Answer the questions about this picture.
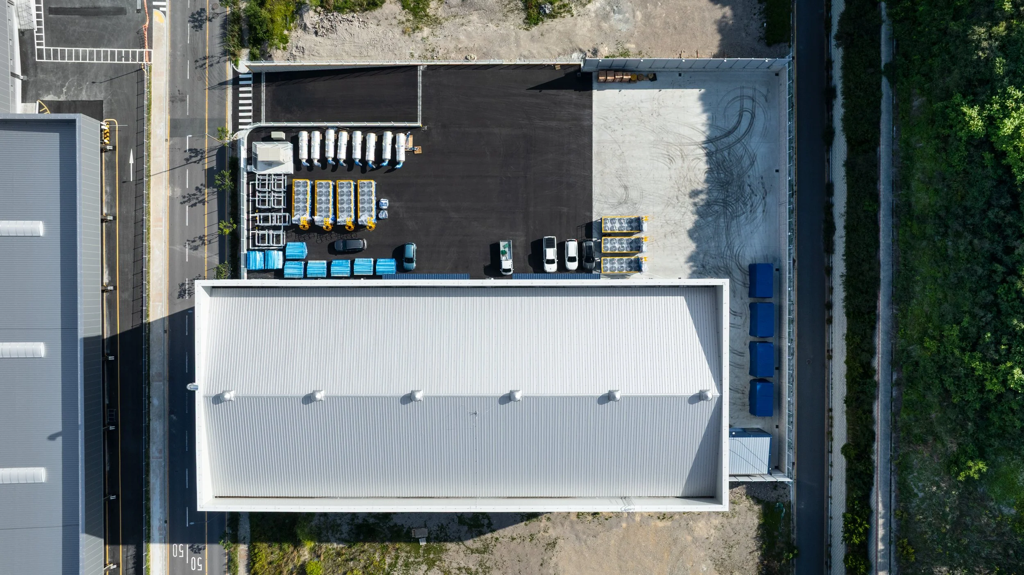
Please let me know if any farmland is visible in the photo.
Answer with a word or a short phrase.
No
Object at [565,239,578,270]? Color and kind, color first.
white vehicle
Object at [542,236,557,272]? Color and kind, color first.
white vehicle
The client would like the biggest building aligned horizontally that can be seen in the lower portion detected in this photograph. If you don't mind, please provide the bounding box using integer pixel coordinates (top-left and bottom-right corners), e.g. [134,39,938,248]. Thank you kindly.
[179,273,729,520]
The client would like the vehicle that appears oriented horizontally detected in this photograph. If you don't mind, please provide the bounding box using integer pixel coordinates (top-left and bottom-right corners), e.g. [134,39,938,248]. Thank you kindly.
[335,238,367,254]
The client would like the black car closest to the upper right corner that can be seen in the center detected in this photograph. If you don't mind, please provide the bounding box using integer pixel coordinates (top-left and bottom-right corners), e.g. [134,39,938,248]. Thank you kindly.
[582,239,595,270]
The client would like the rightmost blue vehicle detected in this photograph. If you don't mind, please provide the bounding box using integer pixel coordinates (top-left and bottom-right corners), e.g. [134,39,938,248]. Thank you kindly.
[402,242,417,271]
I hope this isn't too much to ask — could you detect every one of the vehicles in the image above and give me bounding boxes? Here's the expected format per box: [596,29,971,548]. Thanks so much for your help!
[542,236,557,272]
[335,238,367,254]
[582,239,595,270]
[500,240,514,275]
[565,239,578,270]
[402,242,417,271]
